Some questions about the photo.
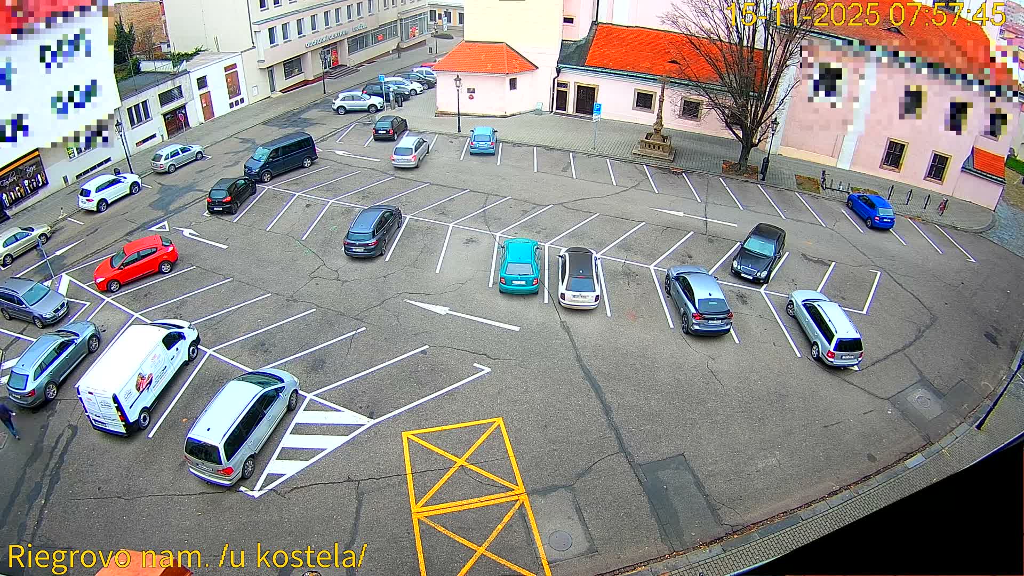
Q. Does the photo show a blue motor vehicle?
Yes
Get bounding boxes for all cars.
[390,137,429,167]
[496,236,545,291]
[0,276,71,328]
[91,236,176,293]
[423,62,439,70]
[667,269,737,335]
[469,129,498,154]
[0,324,99,411]
[733,218,786,282]
[339,206,401,259]
[179,370,297,490]
[149,145,205,173]
[393,73,435,89]
[0,225,51,265]
[76,176,142,213]
[849,195,899,230]
[551,245,604,306]
[371,114,407,141]
[201,178,255,215]
[788,293,869,368]
[331,90,385,114]
[366,83,412,100]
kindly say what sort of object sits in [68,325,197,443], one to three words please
van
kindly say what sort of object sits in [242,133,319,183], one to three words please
vehicle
